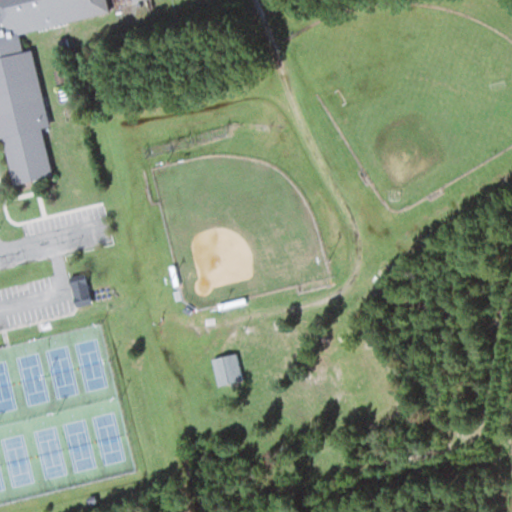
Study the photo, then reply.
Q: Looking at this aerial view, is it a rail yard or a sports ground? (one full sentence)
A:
The area seen from above is a sports ground.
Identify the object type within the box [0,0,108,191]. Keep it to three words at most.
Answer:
building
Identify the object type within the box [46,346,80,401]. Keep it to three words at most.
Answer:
tennis court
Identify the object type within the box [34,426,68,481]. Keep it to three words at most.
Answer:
tennis court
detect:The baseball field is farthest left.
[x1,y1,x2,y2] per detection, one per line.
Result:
[152,154,332,310]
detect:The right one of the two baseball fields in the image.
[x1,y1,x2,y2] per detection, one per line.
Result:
[300,2,512,211]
